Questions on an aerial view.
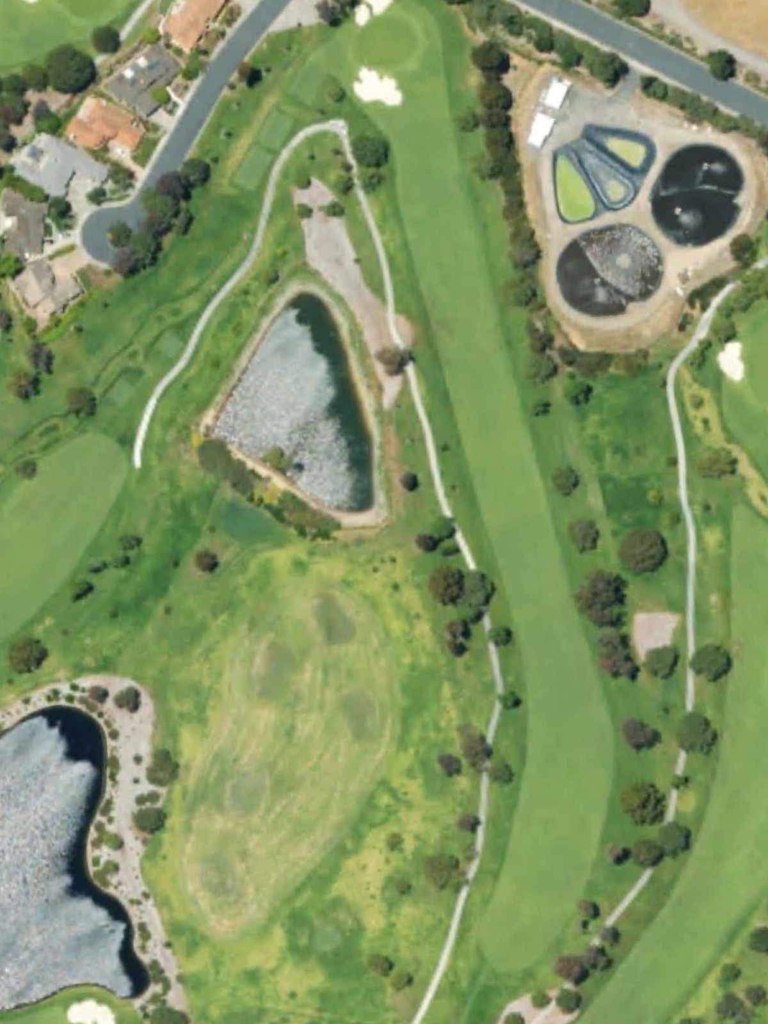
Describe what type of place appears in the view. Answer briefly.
golf course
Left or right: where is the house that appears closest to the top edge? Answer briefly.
left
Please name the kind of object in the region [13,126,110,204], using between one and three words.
house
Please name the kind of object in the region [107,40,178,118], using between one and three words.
house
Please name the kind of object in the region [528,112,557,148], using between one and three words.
shed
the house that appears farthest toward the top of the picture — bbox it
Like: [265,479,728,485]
[163,0,223,51]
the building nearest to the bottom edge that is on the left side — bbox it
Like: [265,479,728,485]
[6,255,88,320]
